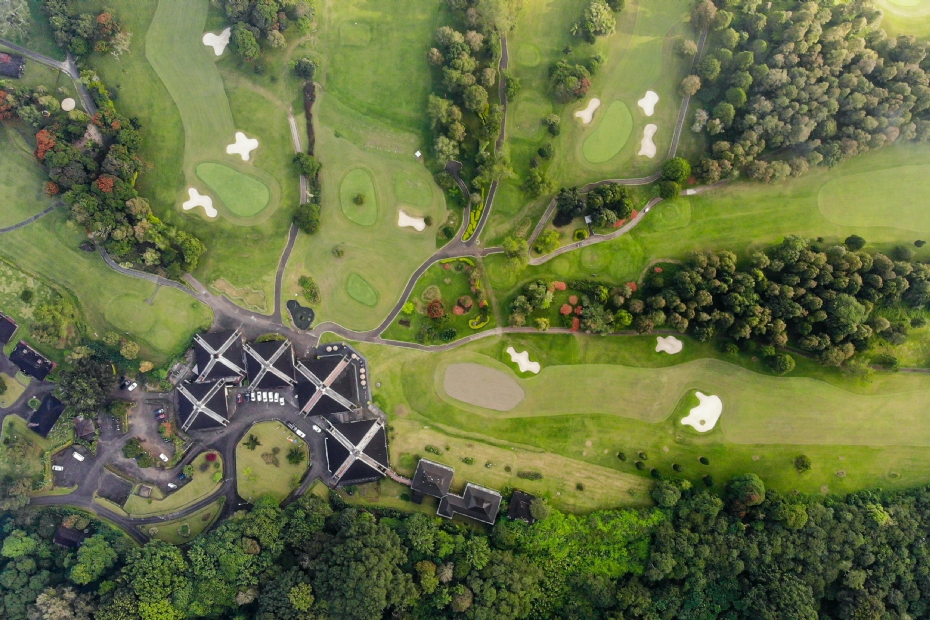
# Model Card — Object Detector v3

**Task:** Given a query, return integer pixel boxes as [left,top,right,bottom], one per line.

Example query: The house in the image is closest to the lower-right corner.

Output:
[508,488,535,523]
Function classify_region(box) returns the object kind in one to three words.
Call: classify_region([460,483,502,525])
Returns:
house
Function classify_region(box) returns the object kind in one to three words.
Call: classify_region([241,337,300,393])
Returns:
building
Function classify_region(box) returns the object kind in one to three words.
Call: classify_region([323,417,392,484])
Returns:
building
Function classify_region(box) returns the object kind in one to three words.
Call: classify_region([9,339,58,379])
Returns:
house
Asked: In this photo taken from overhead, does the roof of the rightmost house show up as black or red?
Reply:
black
